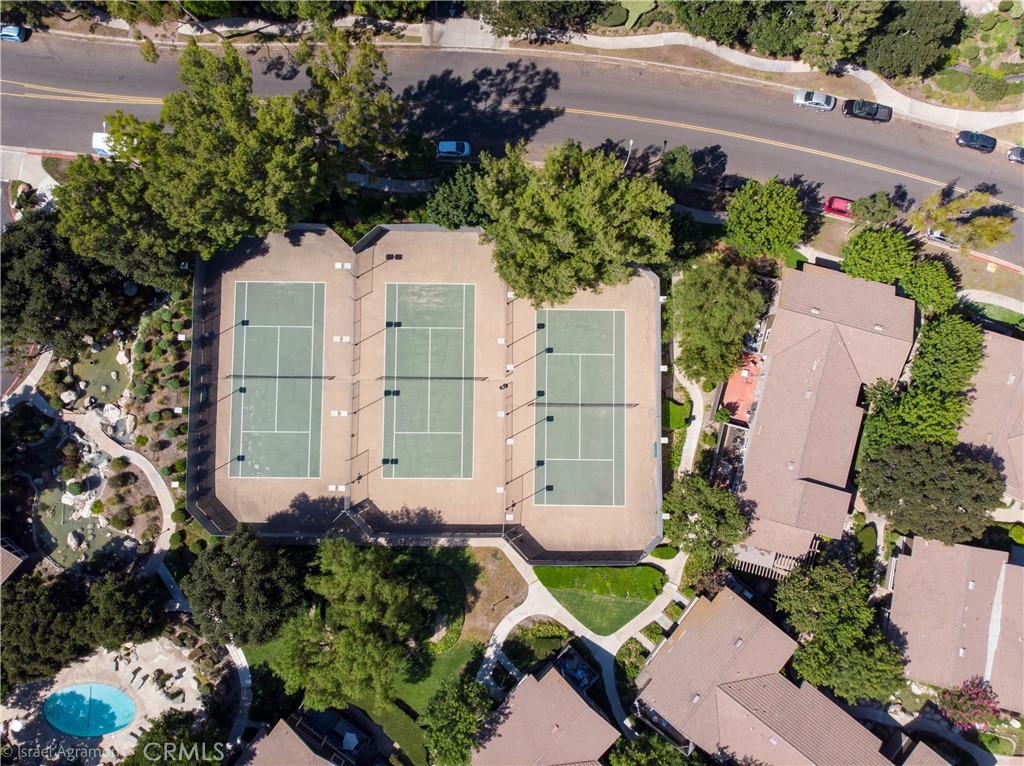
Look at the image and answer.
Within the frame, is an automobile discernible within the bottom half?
No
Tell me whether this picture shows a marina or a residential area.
residential area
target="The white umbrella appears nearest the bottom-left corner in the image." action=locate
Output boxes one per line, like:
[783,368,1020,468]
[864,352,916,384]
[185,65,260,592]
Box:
[9,716,32,734]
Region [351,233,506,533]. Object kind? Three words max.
tennis court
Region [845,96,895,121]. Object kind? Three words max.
truck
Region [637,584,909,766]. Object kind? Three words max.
house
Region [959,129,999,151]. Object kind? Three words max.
car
